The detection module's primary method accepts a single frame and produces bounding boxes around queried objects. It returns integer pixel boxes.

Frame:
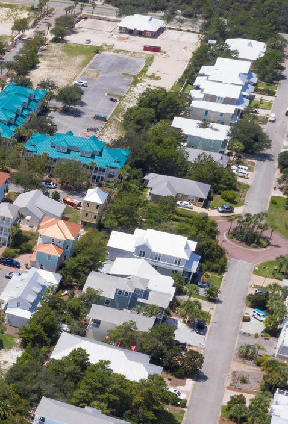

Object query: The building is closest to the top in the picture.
[115,16,169,40]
